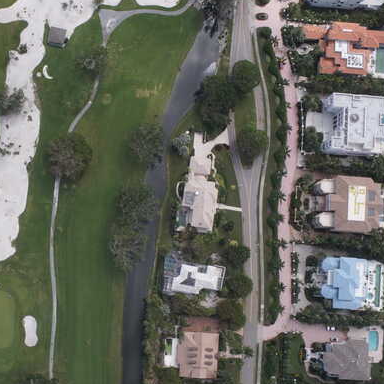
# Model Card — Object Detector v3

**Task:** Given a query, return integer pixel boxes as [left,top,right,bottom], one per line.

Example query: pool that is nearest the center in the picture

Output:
[177,208,192,230]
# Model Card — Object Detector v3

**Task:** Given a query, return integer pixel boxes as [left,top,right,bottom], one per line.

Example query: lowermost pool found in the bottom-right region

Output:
[348,326,384,363]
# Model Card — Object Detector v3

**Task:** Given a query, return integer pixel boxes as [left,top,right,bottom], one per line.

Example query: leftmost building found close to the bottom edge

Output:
[178,332,218,379]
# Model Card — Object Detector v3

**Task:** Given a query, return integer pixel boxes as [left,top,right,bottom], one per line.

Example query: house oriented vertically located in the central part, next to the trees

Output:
[182,156,218,231]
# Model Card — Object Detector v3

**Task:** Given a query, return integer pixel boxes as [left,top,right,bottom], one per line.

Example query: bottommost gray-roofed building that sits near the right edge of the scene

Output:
[321,340,371,380]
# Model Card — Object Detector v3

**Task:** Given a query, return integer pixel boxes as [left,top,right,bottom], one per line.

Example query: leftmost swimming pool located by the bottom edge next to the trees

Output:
[164,338,178,366]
